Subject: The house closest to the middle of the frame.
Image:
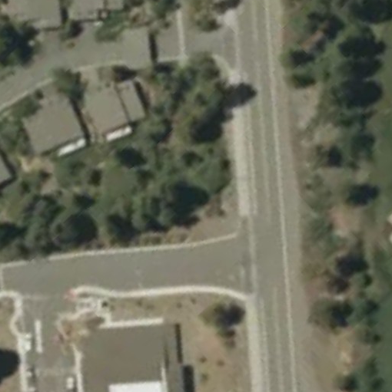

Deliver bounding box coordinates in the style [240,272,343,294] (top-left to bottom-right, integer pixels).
[84,82,145,141]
